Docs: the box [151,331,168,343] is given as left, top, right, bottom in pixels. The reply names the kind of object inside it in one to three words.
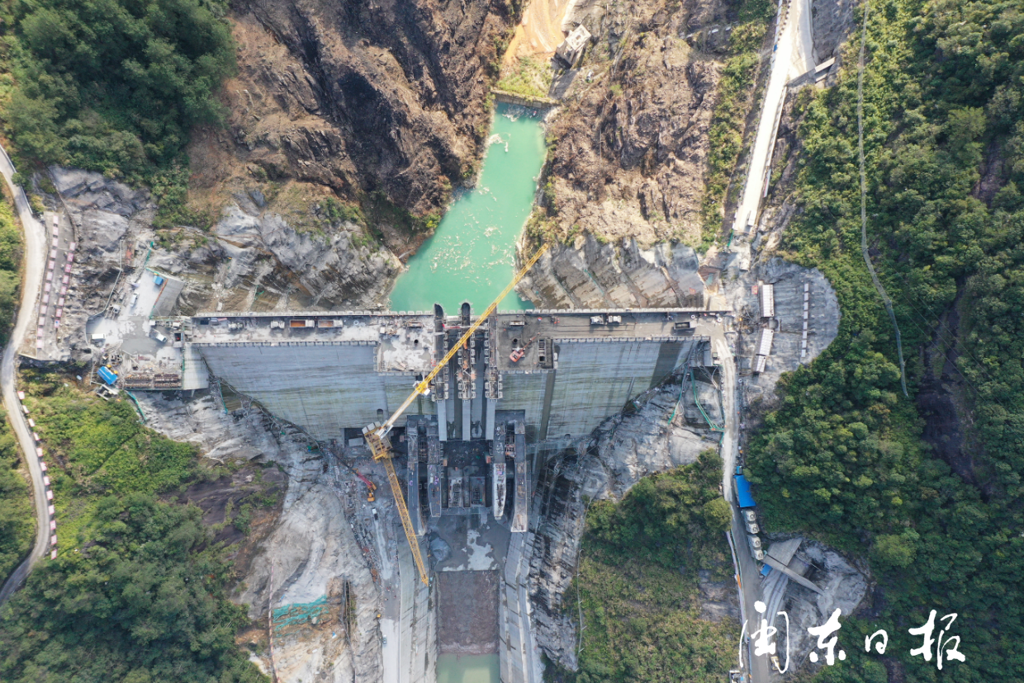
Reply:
vehicle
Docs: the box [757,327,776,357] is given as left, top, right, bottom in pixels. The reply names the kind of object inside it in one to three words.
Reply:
building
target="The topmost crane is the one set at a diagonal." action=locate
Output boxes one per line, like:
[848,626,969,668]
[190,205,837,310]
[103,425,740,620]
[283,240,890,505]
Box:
[377,245,548,436]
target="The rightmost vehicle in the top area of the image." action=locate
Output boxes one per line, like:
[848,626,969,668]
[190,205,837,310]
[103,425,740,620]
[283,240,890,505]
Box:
[746,207,758,228]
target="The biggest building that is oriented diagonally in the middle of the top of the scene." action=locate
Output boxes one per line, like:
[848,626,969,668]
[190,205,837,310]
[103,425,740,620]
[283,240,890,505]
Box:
[557,24,591,65]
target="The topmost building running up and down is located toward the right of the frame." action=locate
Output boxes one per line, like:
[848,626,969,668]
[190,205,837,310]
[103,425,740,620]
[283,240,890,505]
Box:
[762,284,777,317]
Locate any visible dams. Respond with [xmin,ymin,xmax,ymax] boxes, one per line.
[187,298,734,467]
